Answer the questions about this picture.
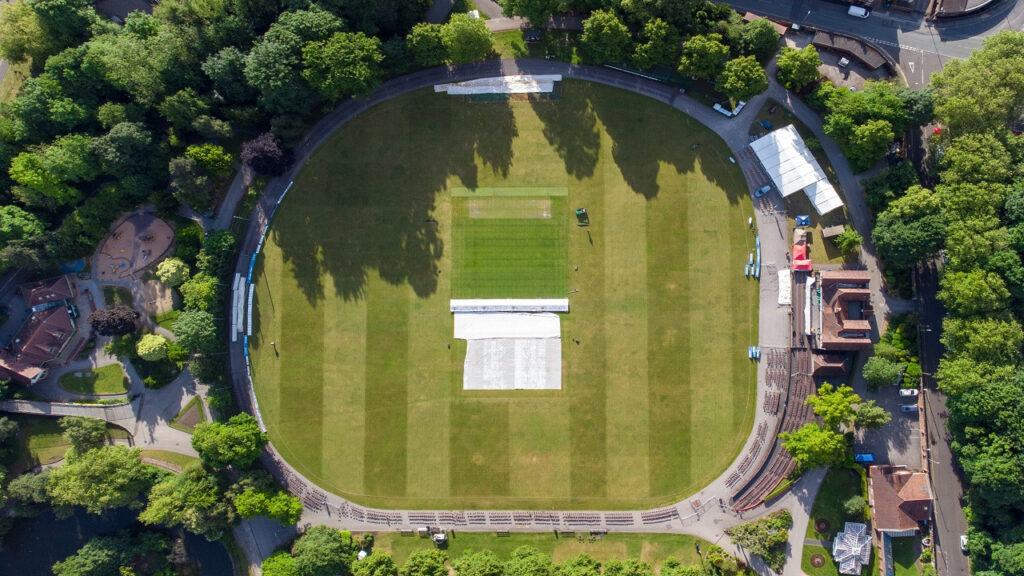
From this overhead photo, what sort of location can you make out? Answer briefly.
sports ground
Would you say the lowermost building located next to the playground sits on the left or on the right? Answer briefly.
left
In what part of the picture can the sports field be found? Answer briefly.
center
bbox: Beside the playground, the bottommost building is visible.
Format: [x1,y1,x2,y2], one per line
[0,274,83,390]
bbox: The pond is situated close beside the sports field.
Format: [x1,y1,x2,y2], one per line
[0,507,233,576]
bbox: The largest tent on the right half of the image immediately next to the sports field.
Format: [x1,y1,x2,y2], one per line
[746,124,844,217]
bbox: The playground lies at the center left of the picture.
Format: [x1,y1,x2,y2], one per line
[96,212,172,281]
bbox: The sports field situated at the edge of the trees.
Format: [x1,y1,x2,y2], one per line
[246,78,761,510]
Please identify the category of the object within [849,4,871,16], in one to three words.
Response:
vehicle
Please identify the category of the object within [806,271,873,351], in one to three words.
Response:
building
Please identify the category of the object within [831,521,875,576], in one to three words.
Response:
greenhouse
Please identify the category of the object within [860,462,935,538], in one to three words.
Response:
house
